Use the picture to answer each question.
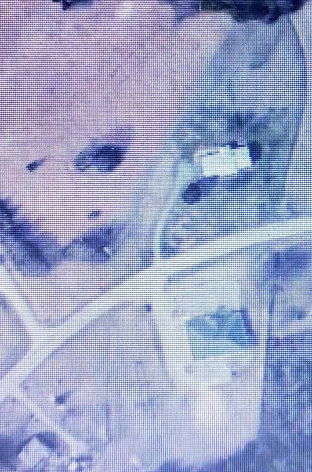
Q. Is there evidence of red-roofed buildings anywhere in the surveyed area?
No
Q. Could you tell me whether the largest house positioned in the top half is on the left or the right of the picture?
right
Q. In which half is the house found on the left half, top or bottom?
bottom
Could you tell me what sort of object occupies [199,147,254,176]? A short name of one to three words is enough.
house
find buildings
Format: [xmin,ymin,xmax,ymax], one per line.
[19,437,51,470]
[199,147,254,176]
[186,311,253,361]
